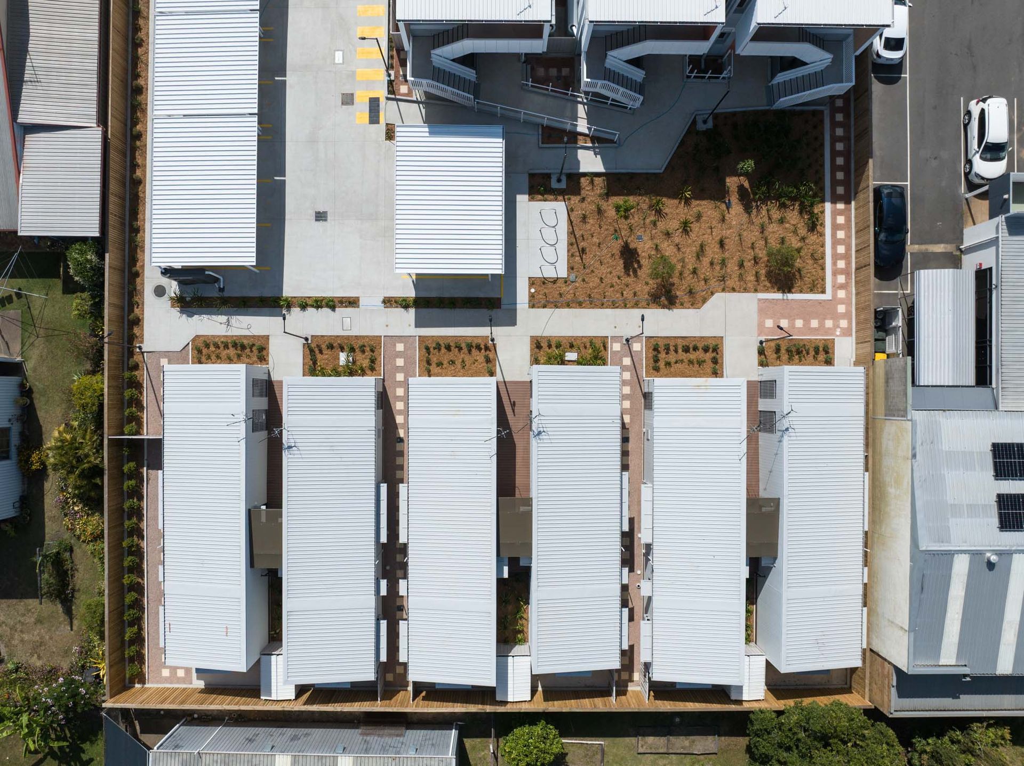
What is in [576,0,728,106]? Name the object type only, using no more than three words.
building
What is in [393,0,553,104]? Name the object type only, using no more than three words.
building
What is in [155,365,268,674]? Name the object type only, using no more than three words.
house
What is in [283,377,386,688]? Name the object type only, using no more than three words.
house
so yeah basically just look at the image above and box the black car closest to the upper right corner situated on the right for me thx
[878,179,912,266]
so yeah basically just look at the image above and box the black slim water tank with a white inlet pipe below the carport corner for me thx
[158,266,225,293]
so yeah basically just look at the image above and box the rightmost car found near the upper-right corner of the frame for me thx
[964,94,1014,180]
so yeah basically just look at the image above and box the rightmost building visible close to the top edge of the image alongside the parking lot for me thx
[723,0,897,108]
